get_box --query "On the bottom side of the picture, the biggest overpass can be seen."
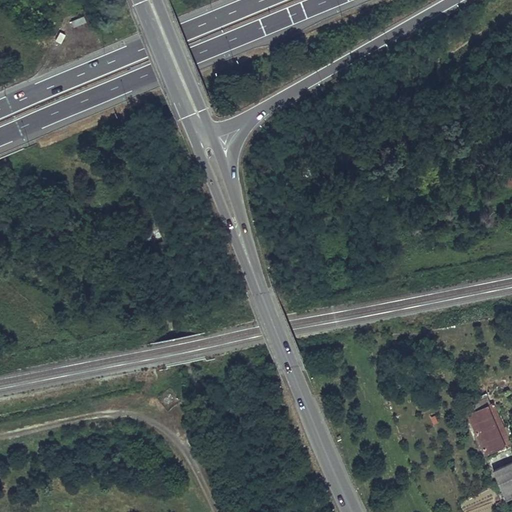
[248,291,305,366]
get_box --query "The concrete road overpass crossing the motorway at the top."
[127,0,210,114]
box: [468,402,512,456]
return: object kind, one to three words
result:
house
